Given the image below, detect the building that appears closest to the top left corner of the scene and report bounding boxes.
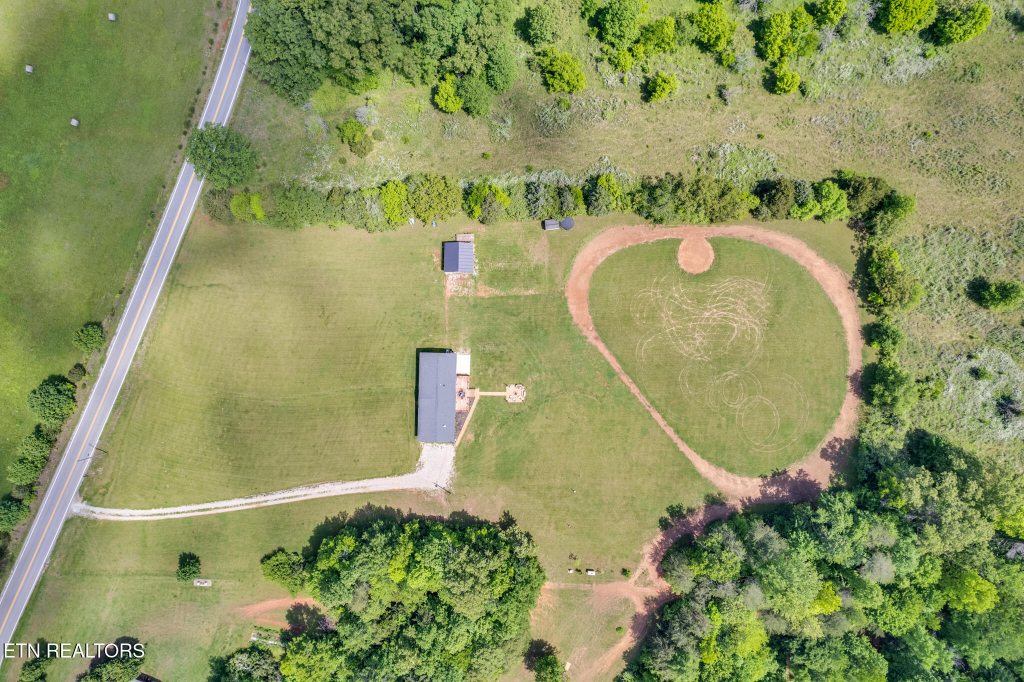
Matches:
[444,242,474,273]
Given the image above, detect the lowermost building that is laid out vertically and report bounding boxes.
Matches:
[417,352,457,444]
